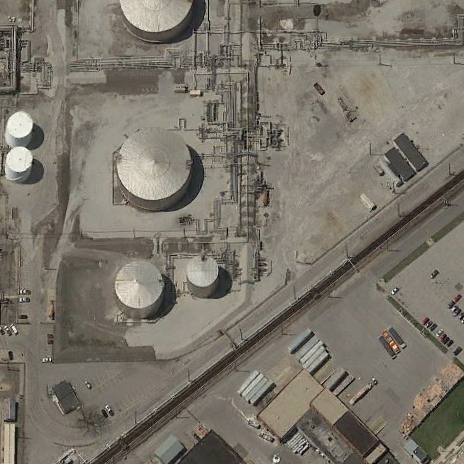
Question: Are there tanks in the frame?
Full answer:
Yes, a tank can be made out from above.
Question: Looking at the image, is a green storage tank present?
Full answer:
No, there appears to be no green storage tank in this shot.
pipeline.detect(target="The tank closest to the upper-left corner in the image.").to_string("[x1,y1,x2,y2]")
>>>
[6,111,34,148]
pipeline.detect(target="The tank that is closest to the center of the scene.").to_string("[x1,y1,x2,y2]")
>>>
[186,253,219,299]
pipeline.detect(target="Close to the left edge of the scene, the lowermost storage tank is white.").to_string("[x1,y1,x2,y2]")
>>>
[5,146,33,185]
